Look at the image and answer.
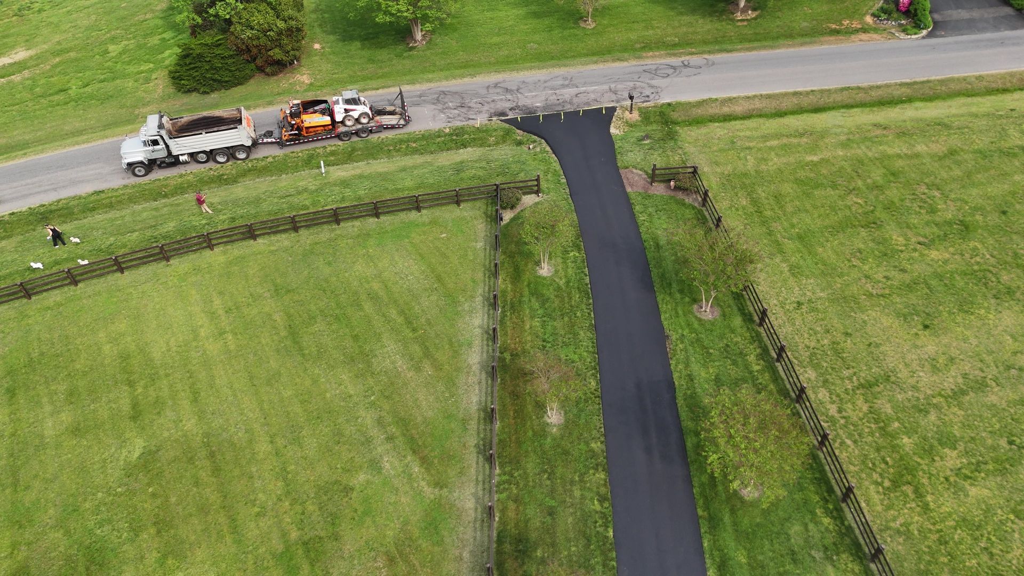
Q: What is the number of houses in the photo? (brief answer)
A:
0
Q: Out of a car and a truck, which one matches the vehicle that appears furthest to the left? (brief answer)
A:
truck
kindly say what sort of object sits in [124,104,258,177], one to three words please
truck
